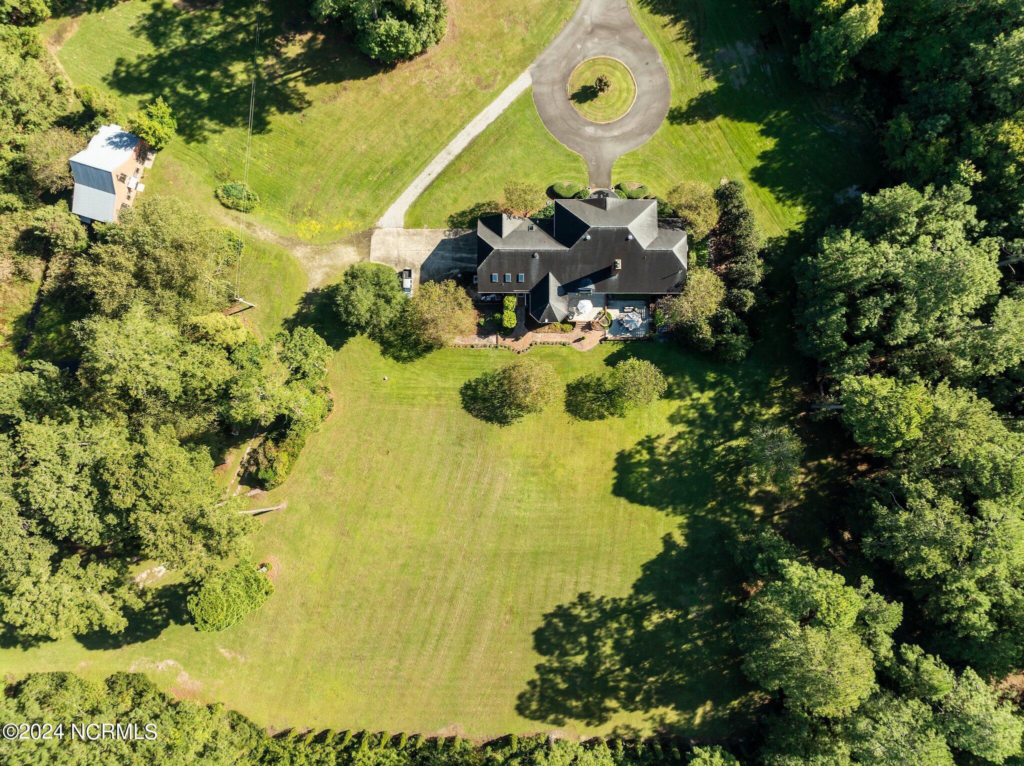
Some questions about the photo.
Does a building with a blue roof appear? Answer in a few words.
No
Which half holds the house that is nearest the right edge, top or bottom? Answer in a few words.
top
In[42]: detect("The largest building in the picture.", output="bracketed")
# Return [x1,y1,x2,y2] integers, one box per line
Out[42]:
[477,194,687,323]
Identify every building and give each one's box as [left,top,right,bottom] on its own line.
[68,126,164,223]
[477,194,687,323]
